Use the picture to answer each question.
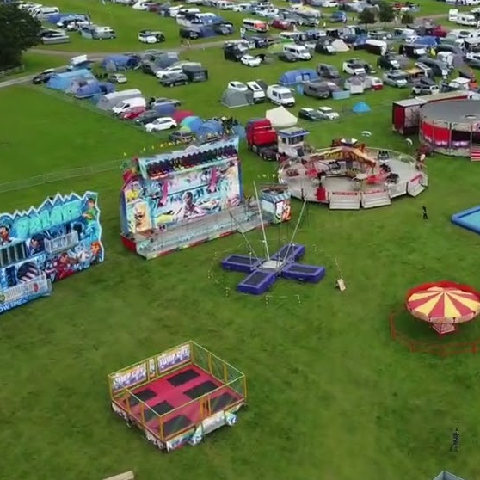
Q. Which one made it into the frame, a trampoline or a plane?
trampoline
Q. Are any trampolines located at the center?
Yes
